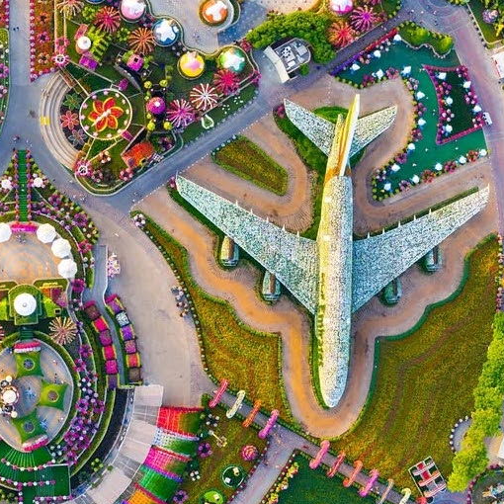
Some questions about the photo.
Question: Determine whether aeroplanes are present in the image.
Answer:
Yes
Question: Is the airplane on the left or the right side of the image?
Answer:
right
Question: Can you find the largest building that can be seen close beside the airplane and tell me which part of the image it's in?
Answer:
top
